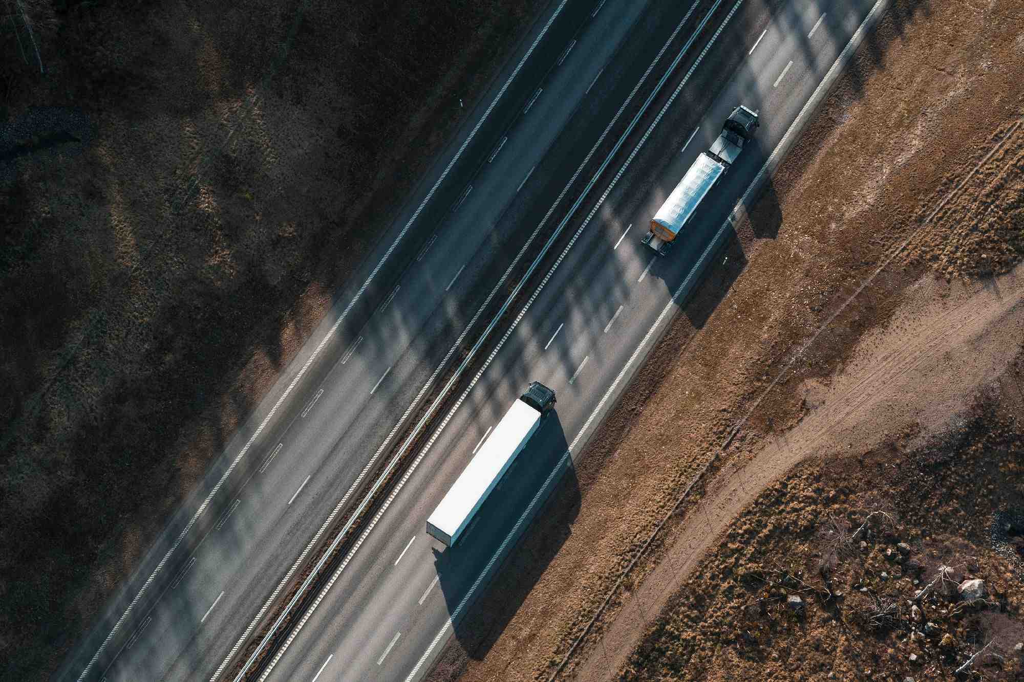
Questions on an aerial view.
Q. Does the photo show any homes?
No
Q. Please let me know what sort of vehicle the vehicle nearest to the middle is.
truck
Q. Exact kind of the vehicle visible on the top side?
truck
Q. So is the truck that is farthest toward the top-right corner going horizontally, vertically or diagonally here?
diagonally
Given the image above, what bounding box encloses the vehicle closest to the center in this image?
[426,379,560,550]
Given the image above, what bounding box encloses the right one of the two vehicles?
[642,108,760,258]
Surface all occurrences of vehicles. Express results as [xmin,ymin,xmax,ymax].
[426,379,560,550]
[642,108,760,258]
